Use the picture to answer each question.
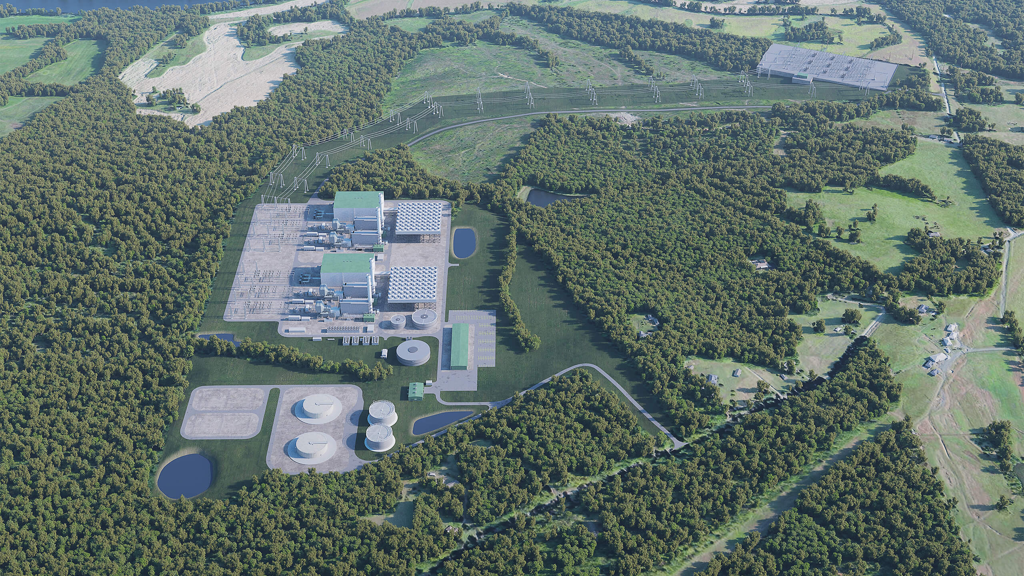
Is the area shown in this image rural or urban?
rural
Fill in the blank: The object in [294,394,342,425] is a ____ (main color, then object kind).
white storage tank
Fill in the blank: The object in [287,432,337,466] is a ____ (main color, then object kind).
white storage tank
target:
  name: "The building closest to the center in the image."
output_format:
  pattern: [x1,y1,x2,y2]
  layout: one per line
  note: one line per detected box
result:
[450,322,469,370]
